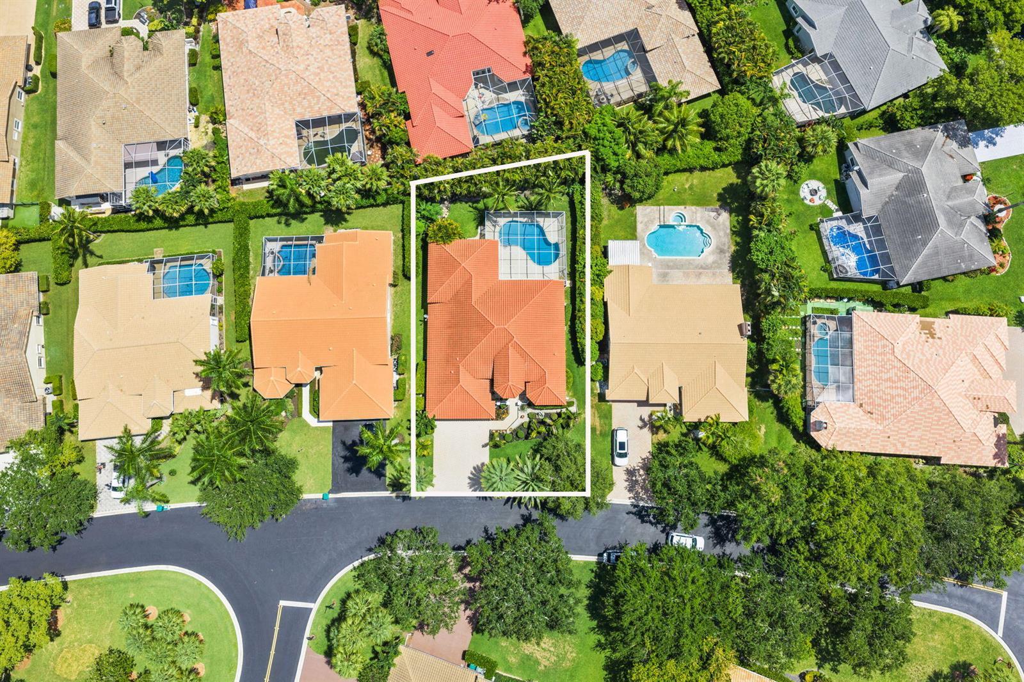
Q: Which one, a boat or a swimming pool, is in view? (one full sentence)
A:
Looking from above, you can make out a swimming pool.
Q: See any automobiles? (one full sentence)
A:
Yes, the frame does contain an automobile.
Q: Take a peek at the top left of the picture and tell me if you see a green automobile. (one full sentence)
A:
No, there's no green automobile to be seen at the top left of the picture.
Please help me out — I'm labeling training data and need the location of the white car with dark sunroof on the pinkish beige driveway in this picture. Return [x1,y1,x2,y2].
[611,428,629,466]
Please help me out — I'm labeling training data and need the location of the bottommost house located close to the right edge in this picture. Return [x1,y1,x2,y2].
[800,311,1017,467]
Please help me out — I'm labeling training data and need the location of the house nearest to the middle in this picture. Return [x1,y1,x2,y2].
[423,239,566,419]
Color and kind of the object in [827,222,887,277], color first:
blue swimming pool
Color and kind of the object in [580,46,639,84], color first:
blue swimming pool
